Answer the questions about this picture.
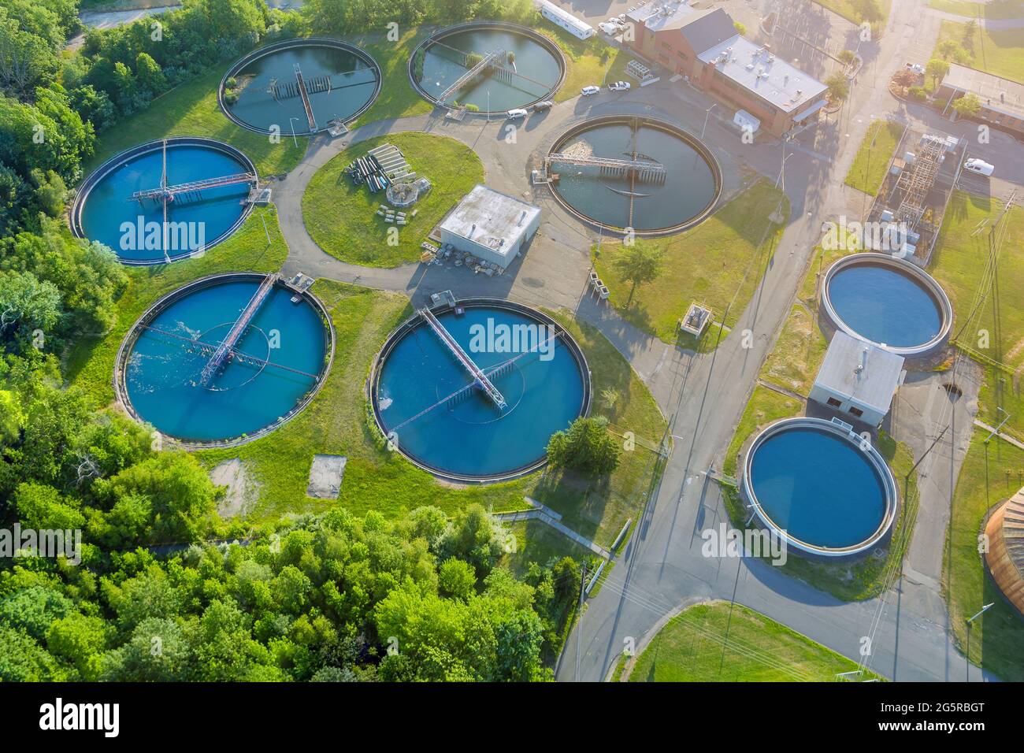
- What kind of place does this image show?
industrial area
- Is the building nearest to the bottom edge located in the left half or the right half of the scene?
right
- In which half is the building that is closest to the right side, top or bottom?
top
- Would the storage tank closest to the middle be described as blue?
Yes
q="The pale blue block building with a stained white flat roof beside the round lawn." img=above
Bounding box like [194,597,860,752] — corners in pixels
[432,184,540,270]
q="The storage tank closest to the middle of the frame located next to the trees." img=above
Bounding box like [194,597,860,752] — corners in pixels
[371,296,590,485]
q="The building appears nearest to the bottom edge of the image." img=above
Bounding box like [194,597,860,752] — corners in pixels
[809,330,907,425]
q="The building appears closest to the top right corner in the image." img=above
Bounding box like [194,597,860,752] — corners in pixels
[940,62,1024,129]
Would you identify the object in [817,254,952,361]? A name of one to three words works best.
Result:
water tank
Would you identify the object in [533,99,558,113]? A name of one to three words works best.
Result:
vehicle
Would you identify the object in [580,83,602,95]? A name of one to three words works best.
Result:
vehicle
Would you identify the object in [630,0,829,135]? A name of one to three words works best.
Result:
building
